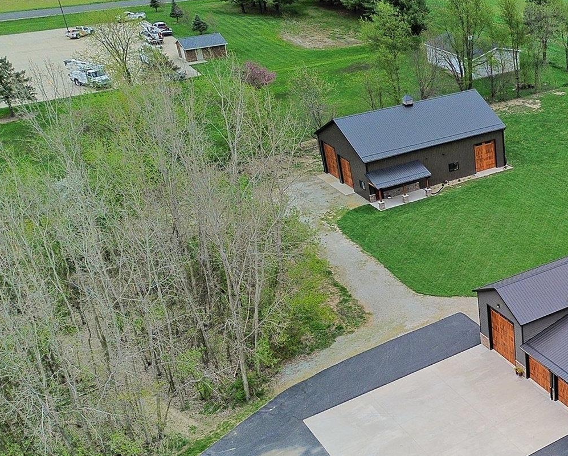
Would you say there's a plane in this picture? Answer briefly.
No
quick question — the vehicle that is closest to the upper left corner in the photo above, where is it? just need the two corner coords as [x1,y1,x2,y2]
[62,26,98,39]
